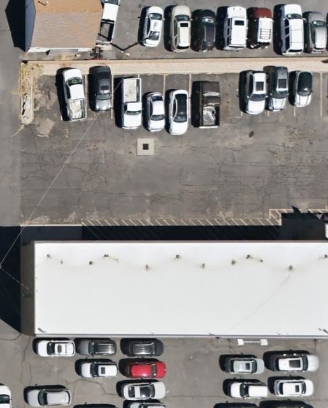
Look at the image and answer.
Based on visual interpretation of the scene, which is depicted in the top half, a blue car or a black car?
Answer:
black car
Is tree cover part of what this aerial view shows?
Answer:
No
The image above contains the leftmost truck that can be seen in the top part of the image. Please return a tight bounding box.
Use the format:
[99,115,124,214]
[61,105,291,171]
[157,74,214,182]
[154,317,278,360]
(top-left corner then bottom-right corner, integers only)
[62,69,89,123]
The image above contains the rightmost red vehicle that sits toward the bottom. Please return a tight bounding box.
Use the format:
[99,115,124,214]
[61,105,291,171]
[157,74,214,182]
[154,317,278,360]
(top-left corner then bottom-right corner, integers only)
[126,361,165,380]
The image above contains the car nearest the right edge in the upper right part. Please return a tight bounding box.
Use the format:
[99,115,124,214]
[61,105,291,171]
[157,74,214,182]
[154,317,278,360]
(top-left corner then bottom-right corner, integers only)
[305,12,328,54]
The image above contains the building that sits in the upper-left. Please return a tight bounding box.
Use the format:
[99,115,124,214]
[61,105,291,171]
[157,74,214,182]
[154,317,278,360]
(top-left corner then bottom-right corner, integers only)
[26,0,102,51]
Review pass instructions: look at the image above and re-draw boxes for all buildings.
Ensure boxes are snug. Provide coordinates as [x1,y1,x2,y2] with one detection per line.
[20,243,328,337]
[26,0,102,51]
